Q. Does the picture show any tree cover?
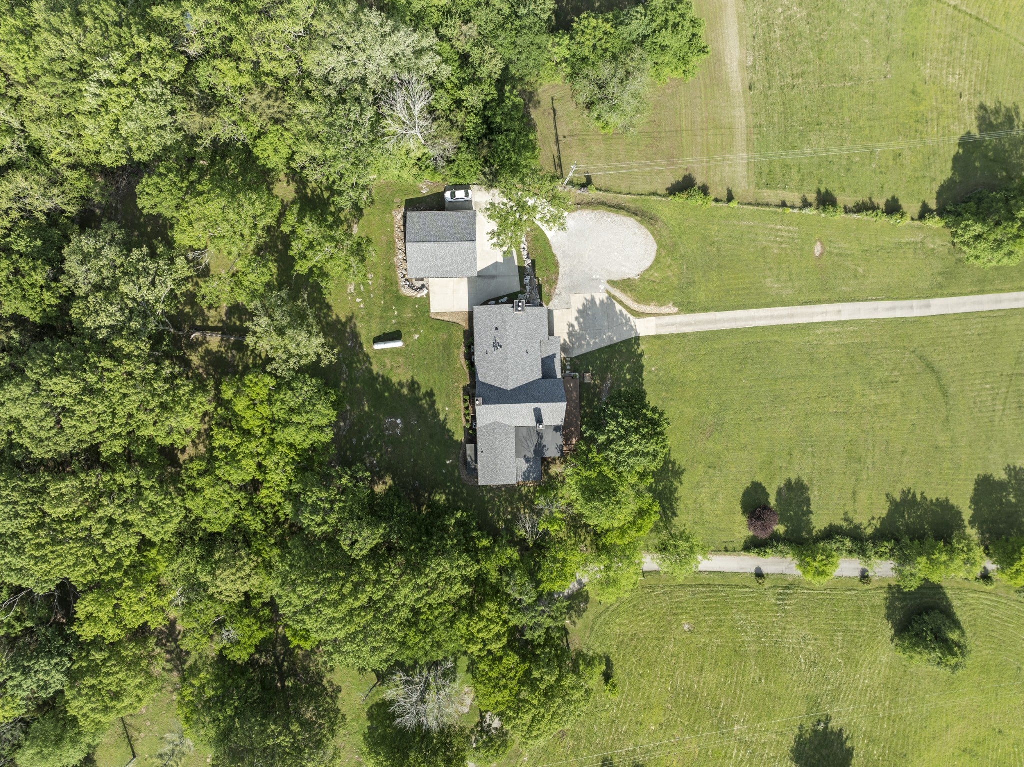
Yes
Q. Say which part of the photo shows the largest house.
center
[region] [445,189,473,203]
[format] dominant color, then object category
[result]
white car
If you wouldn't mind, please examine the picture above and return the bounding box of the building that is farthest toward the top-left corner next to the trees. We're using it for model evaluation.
[404,212,477,279]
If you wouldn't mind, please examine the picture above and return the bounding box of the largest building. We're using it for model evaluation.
[467,300,567,485]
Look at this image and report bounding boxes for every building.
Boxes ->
[467,300,567,485]
[404,212,477,279]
